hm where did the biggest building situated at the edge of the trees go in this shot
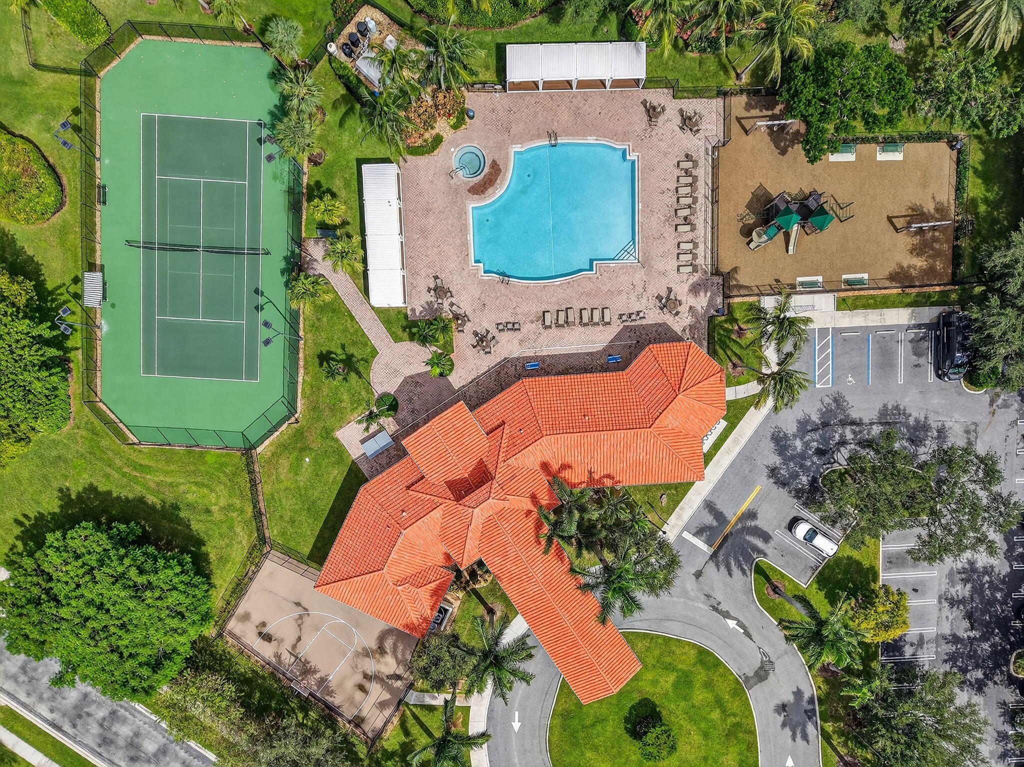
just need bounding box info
[312,340,728,706]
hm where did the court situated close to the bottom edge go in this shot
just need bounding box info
[227,553,423,741]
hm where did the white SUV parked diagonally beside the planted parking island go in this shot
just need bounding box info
[793,518,848,564]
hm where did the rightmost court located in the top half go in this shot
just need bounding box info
[100,40,304,447]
